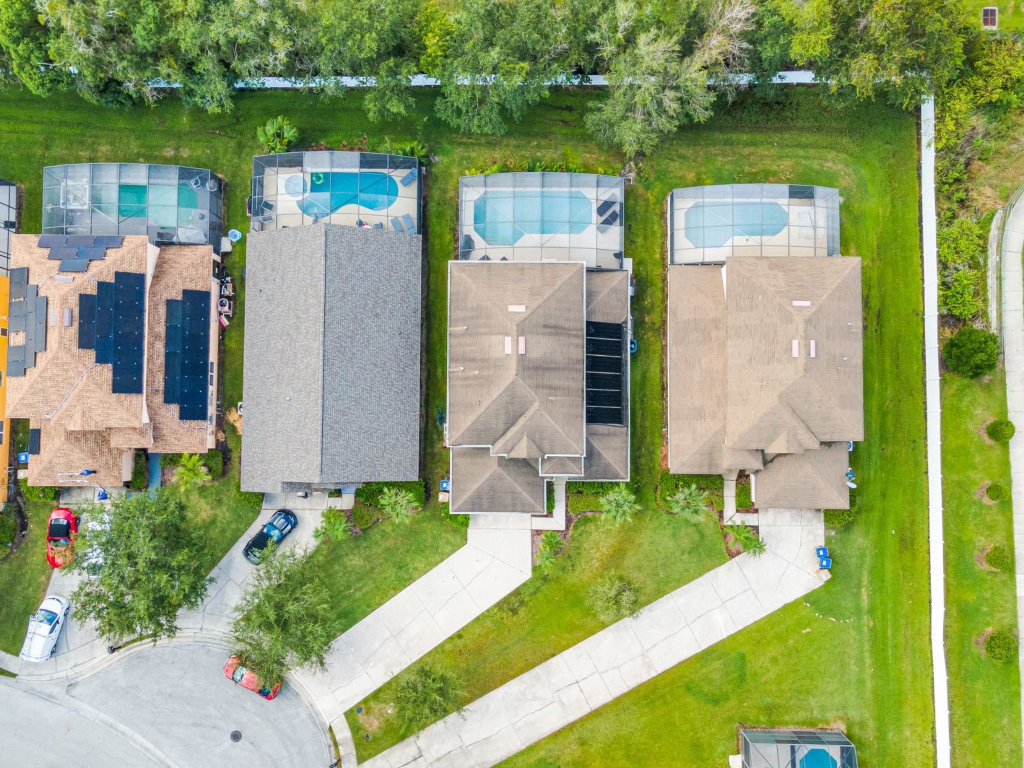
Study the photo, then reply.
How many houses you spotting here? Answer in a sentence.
The count of houses comes to 4.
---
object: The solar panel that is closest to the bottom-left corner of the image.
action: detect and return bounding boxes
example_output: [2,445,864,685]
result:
[28,429,40,454]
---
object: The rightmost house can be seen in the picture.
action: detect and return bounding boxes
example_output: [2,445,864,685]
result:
[667,255,864,509]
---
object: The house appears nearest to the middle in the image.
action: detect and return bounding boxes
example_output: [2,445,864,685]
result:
[446,260,631,514]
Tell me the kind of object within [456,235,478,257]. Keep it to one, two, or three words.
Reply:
umbrella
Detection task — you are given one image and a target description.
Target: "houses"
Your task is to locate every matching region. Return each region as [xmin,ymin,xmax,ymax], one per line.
[240,224,422,493]
[667,255,864,509]
[446,260,631,514]
[5,233,221,487]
